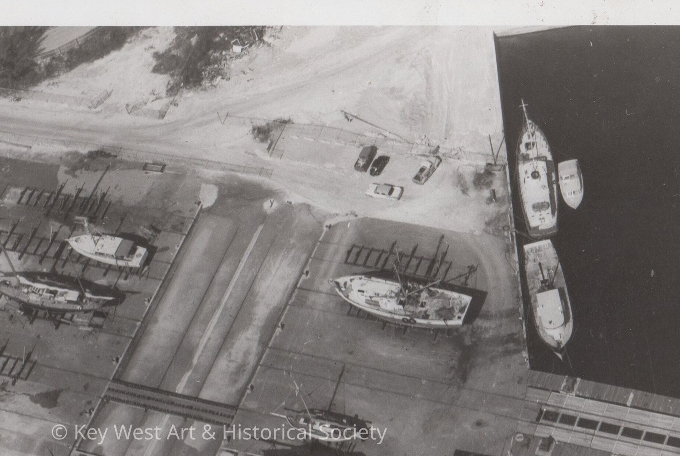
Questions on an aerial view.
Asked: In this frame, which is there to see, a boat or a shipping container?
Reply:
boat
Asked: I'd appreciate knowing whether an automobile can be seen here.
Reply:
Yes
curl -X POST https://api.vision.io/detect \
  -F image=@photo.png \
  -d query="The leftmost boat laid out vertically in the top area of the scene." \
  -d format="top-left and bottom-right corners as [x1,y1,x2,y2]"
[513,97,562,242]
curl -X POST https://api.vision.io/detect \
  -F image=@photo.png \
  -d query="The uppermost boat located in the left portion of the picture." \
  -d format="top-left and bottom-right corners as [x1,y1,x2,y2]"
[65,216,150,270]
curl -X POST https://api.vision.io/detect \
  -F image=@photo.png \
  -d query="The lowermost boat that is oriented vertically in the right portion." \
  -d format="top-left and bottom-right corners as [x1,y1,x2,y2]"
[517,238,576,358]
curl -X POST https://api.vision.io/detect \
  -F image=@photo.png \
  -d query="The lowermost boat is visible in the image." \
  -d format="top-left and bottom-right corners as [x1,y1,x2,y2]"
[270,377,371,440]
